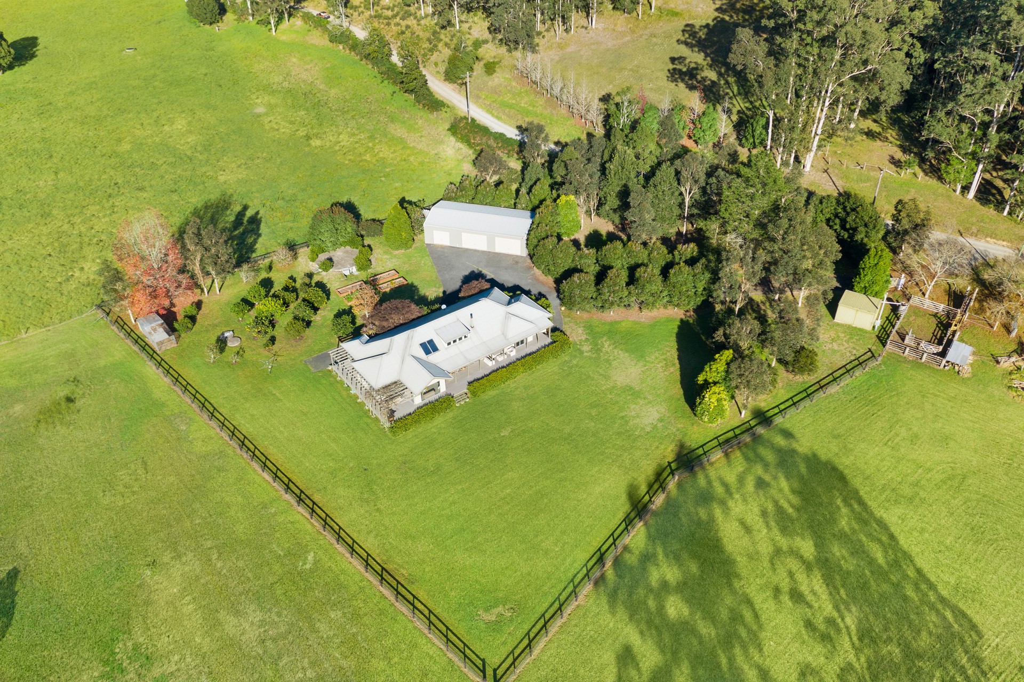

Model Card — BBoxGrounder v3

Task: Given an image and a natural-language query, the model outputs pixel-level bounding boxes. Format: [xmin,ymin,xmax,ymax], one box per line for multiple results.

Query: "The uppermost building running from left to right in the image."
[423,200,536,256]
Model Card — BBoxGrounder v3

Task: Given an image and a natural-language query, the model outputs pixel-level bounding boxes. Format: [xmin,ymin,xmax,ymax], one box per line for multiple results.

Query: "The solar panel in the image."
[420,338,440,361]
